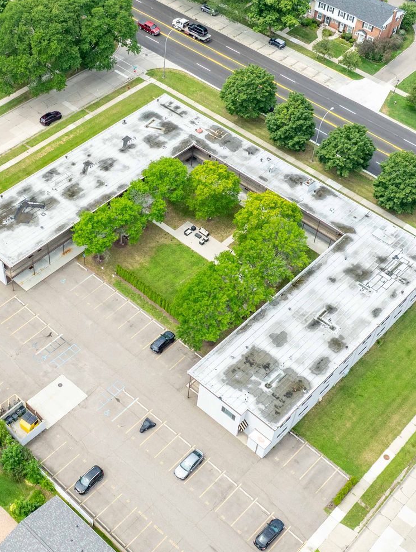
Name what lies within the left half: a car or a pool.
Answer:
car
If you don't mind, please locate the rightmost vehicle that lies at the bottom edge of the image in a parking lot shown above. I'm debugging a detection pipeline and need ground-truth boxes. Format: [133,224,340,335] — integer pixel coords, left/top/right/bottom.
[254,517,286,551]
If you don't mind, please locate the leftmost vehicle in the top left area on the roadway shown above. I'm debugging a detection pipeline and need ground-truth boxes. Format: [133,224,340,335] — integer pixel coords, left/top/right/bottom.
[39,111,63,127]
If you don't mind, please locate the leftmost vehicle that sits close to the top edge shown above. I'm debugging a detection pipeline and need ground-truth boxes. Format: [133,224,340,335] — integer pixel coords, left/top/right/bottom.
[140,20,160,36]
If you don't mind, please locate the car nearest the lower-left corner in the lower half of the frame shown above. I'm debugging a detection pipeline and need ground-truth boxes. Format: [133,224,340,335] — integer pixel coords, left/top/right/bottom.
[71,464,106,495]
